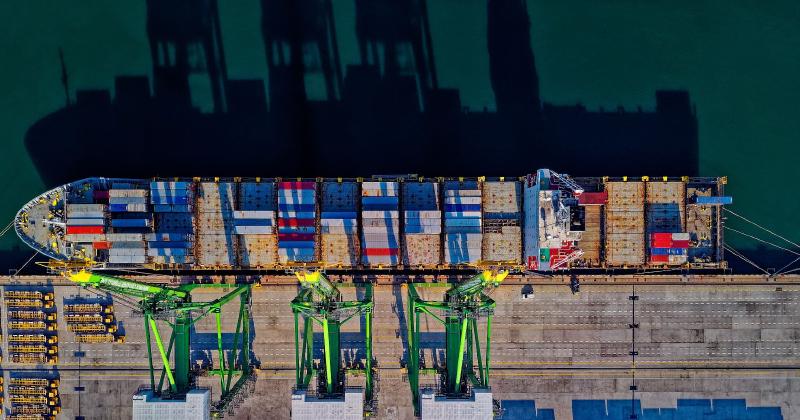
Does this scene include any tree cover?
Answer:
No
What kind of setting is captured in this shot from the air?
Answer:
port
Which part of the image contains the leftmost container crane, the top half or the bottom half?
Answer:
bottom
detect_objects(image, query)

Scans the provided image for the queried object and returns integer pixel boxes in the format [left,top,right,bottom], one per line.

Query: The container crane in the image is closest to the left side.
[44,258,260,420]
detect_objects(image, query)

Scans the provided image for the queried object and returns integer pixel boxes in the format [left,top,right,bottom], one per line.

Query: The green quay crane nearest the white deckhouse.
[395,258,531,420]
